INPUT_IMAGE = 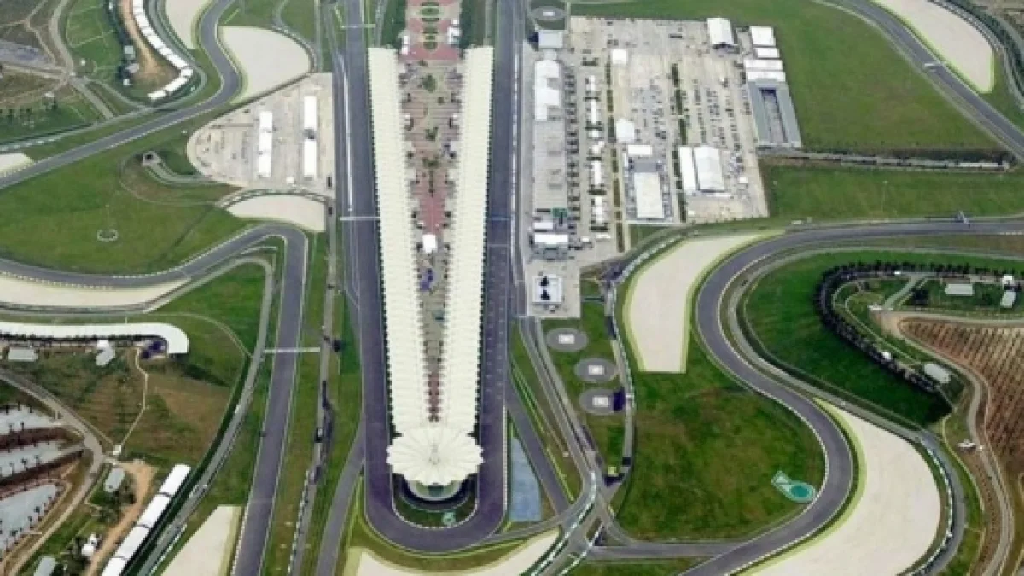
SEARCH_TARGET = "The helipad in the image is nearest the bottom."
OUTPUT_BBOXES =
[579,387,618,416]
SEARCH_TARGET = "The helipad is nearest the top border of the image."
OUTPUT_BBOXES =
[531,6,565,21]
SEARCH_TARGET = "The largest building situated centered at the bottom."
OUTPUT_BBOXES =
[384,425,482,505]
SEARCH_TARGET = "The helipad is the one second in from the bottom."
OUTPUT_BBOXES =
[573,356,618,383]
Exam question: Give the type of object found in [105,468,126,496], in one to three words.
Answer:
house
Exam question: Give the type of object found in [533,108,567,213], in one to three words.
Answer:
building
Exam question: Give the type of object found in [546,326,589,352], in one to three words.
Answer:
helipad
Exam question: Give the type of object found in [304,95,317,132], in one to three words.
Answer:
tent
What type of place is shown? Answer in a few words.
sports ground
